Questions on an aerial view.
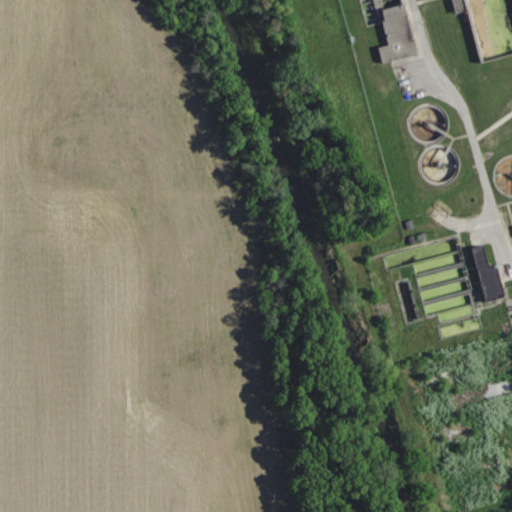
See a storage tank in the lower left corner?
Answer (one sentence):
No, in the lower left corner there is no storage tank.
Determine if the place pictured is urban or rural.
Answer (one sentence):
From above, the setting appears rural.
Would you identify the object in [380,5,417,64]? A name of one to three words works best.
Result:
building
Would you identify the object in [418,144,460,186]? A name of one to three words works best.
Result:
storage tank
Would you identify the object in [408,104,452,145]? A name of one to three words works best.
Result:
storage tank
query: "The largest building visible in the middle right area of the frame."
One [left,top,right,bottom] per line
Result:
[472,246,505,302]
